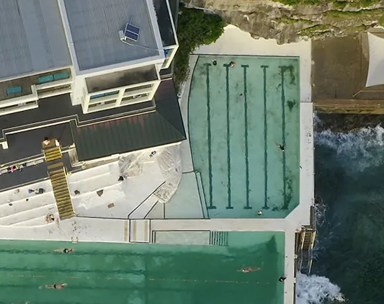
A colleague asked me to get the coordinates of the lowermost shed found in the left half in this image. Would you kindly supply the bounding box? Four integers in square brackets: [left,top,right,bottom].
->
[71,79,186,169]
